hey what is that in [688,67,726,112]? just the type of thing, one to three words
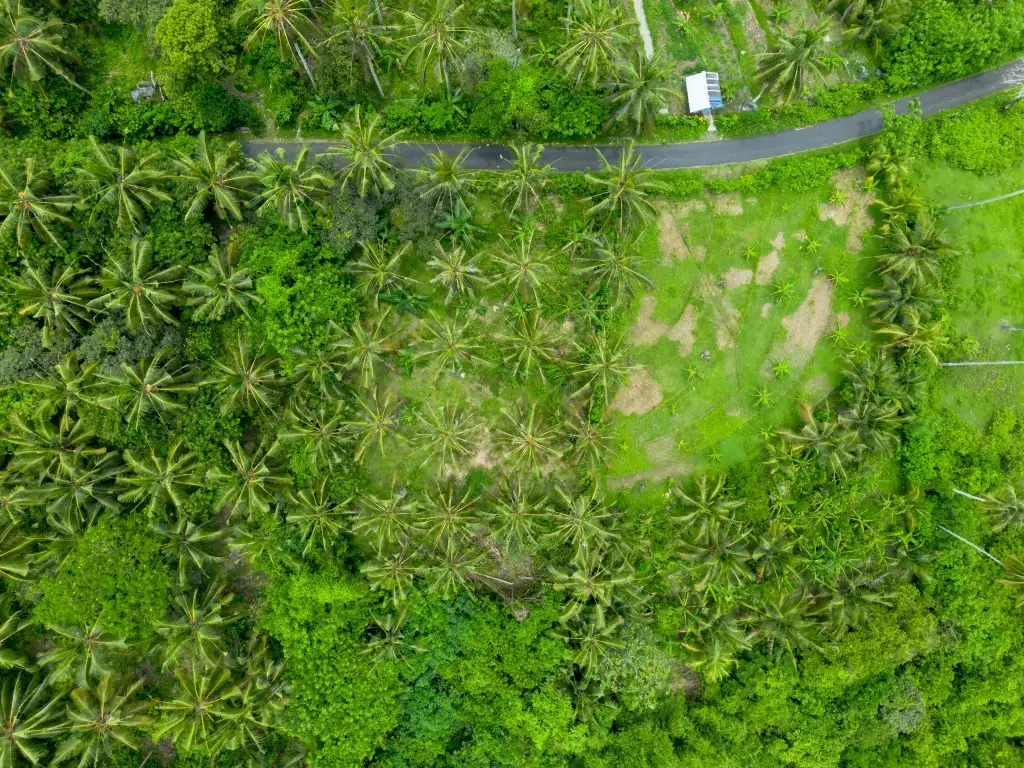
shed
